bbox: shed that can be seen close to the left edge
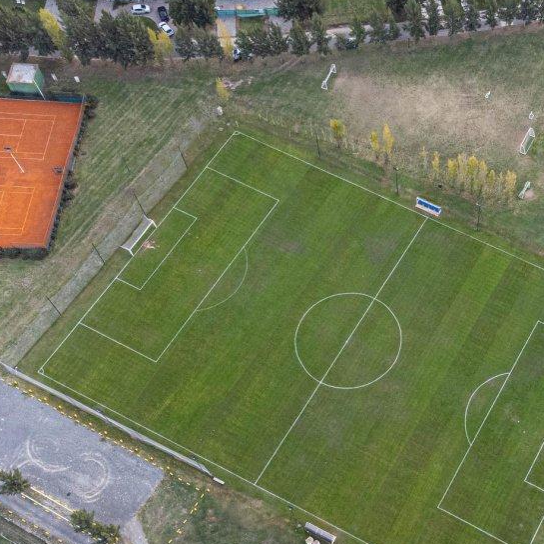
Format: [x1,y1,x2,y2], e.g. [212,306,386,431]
[6,62,44,94]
